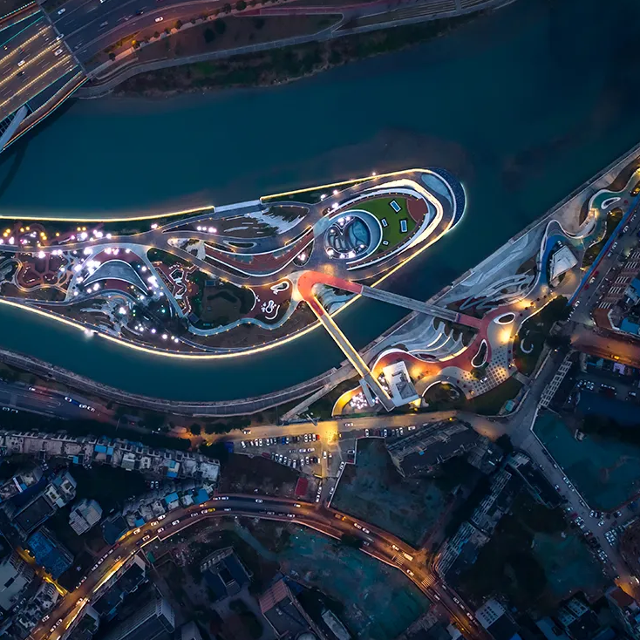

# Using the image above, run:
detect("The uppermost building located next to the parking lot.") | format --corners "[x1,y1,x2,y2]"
[380,360,421,407]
